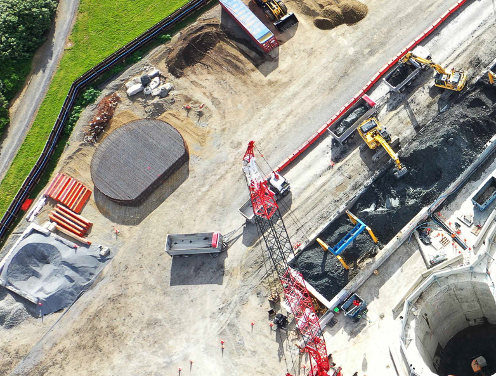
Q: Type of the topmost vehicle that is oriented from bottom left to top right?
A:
truck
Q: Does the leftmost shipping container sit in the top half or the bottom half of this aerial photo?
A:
top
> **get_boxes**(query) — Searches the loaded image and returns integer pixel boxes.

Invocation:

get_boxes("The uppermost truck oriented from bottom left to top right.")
[377,43,433,94]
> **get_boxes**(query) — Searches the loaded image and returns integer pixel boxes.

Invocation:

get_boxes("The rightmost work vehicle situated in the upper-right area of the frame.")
[413,43,473,100]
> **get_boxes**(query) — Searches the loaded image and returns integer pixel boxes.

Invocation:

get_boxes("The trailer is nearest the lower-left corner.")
[161,236,245,264]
